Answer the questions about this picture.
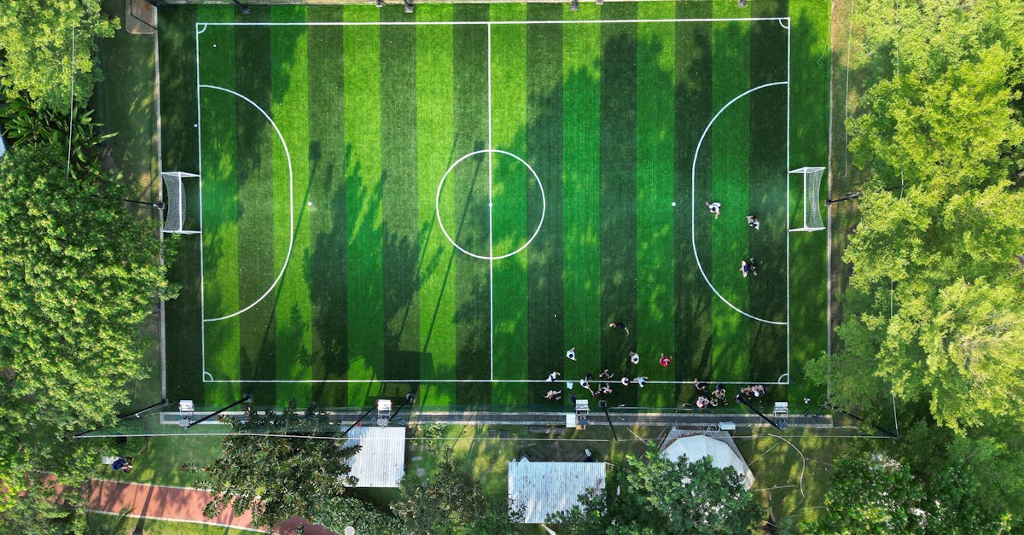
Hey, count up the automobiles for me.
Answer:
zero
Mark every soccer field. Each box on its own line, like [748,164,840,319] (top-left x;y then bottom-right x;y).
[162,0,829,413]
